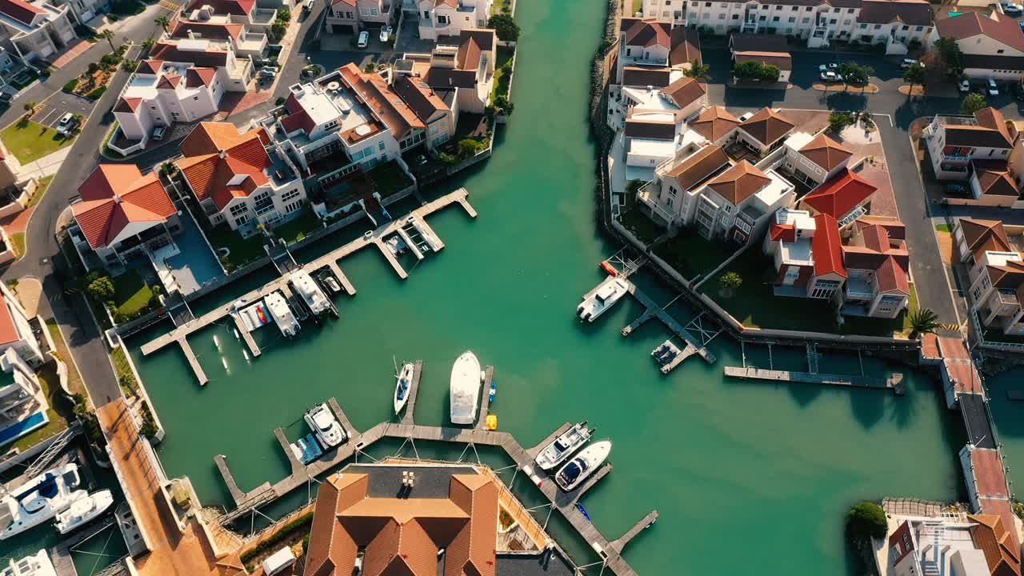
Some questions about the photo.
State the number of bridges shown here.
2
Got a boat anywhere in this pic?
Yes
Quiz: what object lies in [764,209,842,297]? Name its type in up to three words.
house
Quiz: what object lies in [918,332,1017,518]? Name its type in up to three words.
bridge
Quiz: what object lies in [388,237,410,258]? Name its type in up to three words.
boat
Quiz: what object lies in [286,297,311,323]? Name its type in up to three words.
pier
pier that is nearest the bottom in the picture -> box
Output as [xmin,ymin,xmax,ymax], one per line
[48,508,119,576]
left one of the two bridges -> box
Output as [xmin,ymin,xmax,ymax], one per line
[93,398,194,554]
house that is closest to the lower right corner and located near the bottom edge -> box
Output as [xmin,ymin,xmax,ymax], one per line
[890,517,1020,576]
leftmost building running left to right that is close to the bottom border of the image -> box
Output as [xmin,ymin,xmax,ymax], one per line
[304,463,580,576]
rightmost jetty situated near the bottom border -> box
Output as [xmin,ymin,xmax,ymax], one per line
[272,360,660,576]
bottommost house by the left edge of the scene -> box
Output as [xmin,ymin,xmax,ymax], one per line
[0,374,53,429]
